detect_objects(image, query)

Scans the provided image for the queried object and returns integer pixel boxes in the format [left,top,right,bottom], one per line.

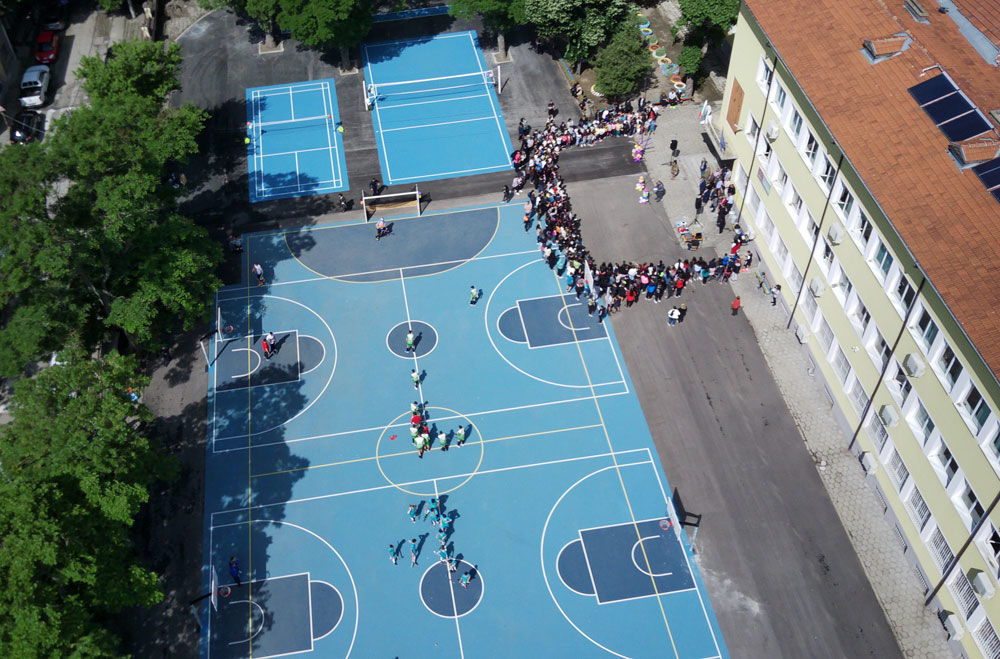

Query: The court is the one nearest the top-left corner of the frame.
[246,78,350,203]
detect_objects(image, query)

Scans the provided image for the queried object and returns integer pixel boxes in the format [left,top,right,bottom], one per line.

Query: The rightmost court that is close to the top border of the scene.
[361,30,517,186]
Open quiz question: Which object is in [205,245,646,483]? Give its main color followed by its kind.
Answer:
blue basketball court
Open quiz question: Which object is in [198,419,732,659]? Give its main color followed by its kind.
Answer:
blue basketball court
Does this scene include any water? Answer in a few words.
No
